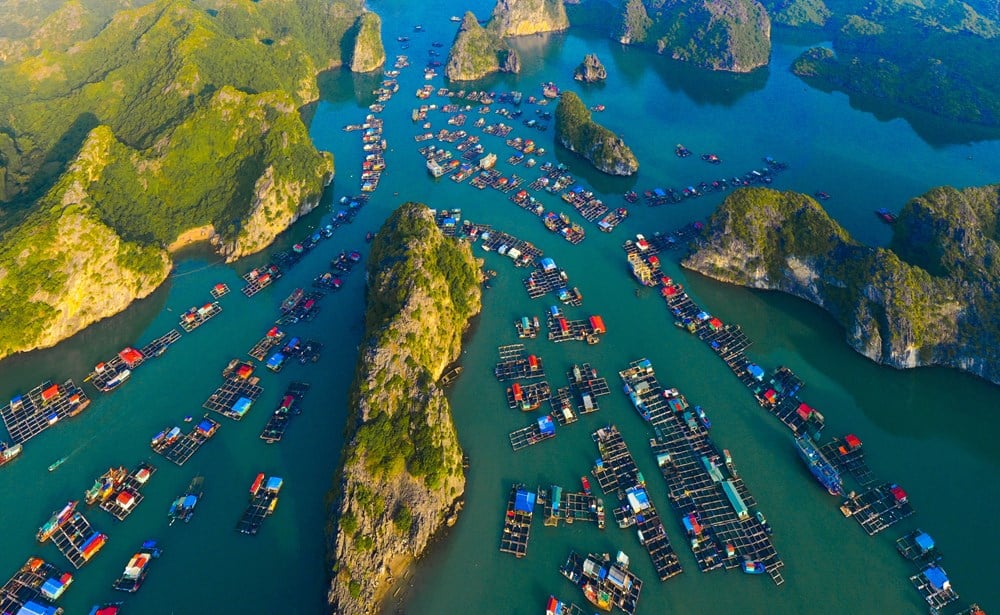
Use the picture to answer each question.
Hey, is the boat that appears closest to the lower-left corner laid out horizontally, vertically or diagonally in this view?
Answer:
diagonally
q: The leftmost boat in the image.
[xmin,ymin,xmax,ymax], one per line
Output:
[0,438,26,468]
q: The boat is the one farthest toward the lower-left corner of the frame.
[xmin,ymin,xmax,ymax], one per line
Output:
[29,497,81,541]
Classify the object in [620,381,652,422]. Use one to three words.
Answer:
boat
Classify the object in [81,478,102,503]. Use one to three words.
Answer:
boat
